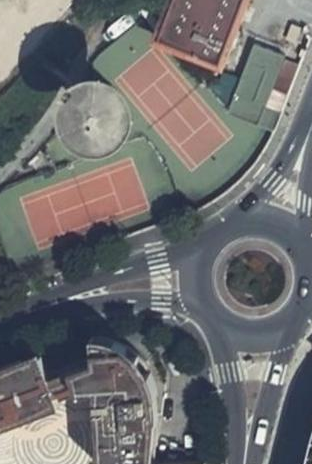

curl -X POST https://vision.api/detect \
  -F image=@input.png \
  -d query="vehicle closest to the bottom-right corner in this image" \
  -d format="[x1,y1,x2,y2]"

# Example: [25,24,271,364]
[255,418,268,445]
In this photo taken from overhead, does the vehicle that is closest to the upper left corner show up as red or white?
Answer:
white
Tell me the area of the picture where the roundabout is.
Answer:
right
